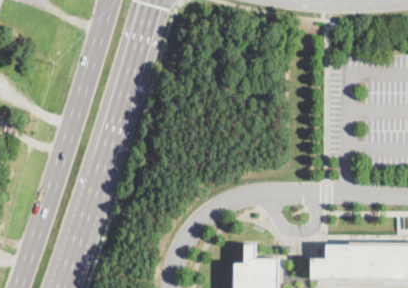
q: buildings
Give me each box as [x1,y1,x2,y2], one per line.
[310,242,408,281]
[233,243,278,288]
